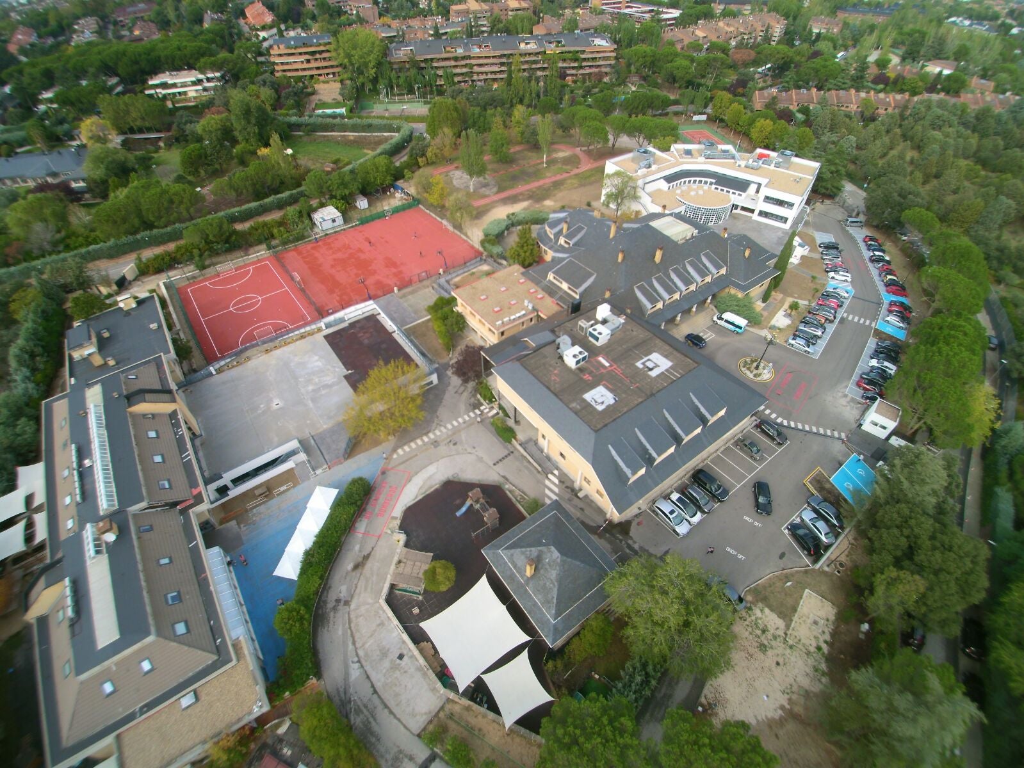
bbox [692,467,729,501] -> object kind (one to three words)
car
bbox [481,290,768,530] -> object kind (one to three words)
building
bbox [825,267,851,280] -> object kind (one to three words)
vehicle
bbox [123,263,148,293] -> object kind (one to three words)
building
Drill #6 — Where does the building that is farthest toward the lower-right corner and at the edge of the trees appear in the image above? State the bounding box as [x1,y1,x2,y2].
[861,398,898,435]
